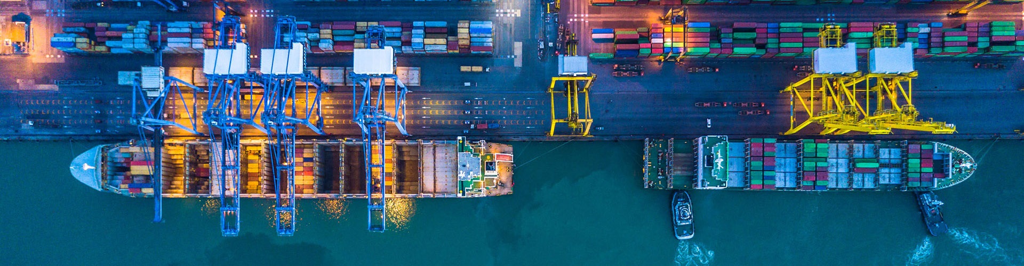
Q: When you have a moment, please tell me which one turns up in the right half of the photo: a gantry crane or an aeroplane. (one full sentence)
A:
What appears in the right half of the photo is a gantry crane.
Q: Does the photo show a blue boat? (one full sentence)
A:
Yes, a blue boat appears in the view.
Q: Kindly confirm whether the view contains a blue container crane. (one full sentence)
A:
Yes, the image includes a blue container crane.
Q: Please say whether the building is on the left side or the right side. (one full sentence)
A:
The building sits on the left side.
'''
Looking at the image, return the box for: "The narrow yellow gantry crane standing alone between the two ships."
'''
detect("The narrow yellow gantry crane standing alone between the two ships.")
[542,33,593,135]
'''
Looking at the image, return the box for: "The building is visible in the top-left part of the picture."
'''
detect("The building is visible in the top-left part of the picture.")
[5,21,36,55]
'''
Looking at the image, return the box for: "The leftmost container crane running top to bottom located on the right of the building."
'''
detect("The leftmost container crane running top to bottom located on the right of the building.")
[127,23,210,221]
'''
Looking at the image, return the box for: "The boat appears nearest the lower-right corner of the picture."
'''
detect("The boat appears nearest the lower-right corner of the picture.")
[916,191,946,238]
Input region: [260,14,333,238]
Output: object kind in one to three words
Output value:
container crane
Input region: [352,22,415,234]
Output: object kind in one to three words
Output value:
container crane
